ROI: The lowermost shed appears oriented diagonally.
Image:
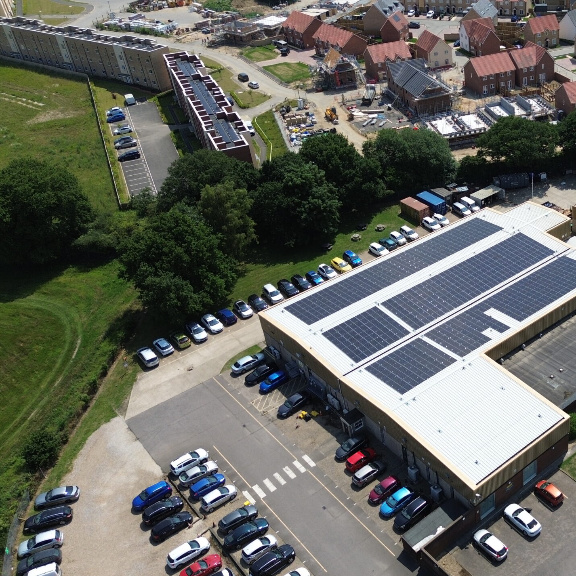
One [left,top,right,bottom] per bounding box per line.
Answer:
[400,497,475,566]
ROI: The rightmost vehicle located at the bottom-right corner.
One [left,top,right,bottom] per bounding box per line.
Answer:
[533,480,568,509]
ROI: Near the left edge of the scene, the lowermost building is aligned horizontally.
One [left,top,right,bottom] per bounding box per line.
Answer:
[0,16,171,87]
